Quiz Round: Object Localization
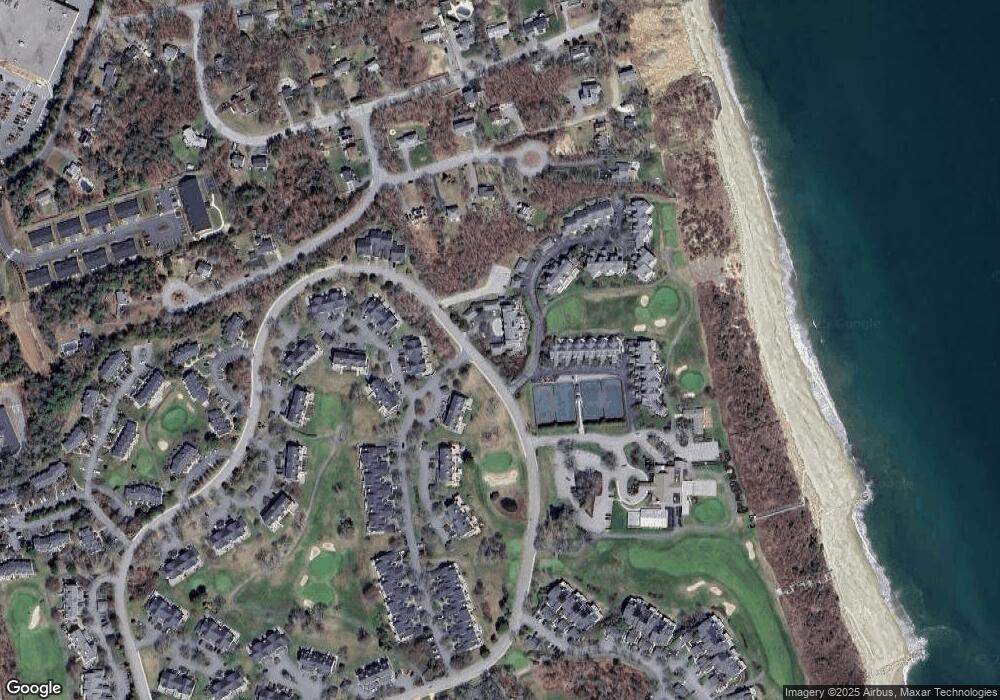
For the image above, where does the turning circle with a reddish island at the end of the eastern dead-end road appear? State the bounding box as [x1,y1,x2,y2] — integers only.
[514,140,549,175]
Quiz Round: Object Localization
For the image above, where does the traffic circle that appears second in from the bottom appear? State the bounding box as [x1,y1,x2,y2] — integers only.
[162,279,196,314]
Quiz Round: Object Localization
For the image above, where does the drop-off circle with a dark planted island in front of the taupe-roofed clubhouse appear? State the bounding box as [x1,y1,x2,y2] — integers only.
[616,469,649,503]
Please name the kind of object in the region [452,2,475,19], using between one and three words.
swimming pool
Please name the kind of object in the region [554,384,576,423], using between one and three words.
tennis court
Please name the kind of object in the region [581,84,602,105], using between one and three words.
house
